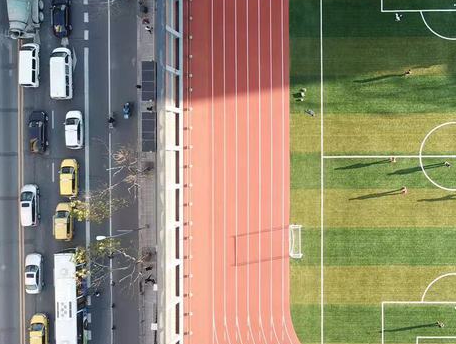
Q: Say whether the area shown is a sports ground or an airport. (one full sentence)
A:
The picture captures a sports ground.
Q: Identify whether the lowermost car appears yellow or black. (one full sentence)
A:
In this view, the lowermost car is yellow.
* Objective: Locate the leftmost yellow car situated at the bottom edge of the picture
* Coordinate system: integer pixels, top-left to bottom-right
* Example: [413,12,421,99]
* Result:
[28,314,48,344]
